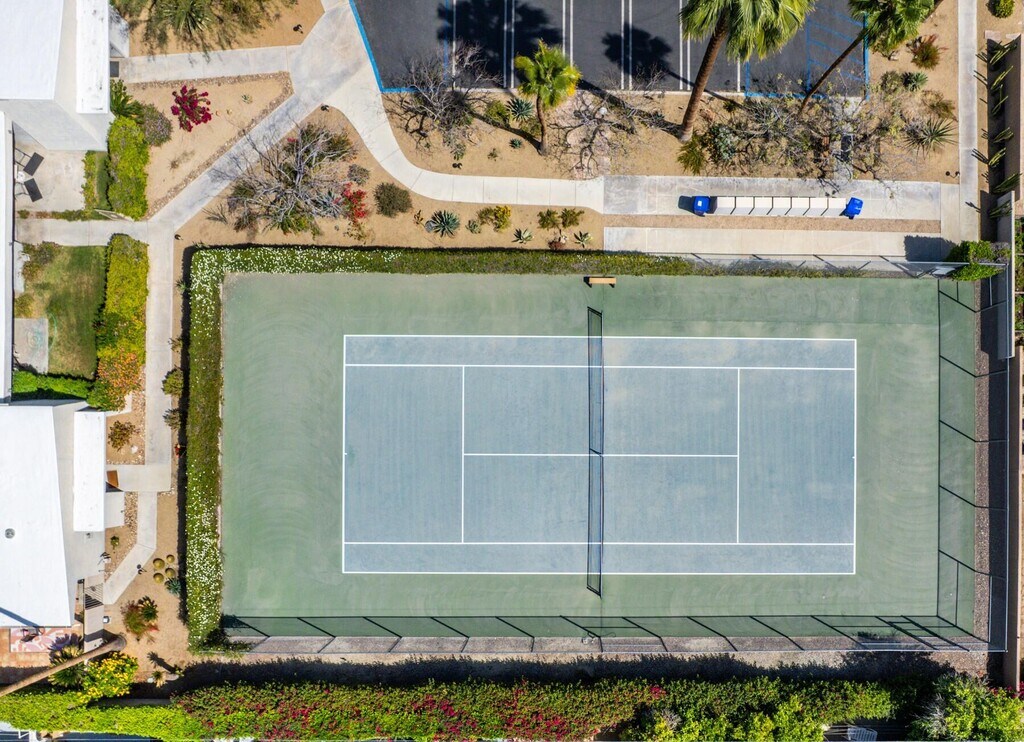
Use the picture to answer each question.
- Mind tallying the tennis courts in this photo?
1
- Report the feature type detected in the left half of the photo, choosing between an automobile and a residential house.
residential house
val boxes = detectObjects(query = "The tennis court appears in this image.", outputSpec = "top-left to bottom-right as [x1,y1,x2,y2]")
[221,272,975,637]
